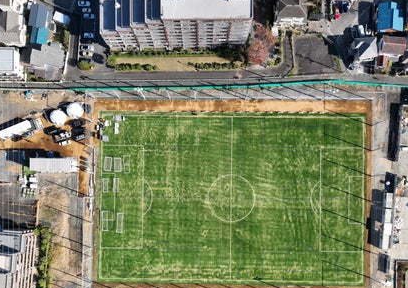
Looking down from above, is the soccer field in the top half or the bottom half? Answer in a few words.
bottom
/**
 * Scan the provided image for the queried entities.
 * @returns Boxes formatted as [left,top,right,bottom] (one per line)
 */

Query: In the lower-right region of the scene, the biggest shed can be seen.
[380,193,392,249]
